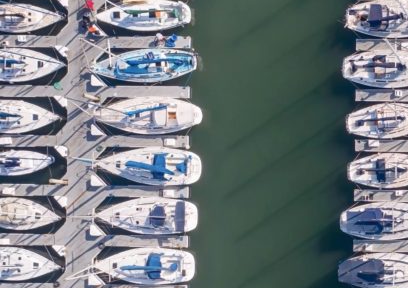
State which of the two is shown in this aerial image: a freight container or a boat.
boat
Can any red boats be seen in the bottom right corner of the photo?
No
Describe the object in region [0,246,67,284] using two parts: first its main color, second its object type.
white boat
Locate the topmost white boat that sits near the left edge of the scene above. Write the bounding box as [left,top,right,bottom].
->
[0,0,84,35]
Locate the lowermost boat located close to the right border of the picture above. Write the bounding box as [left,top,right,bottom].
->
[338,247,408,288]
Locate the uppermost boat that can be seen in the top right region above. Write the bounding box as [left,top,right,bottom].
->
[344,0,408,41]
